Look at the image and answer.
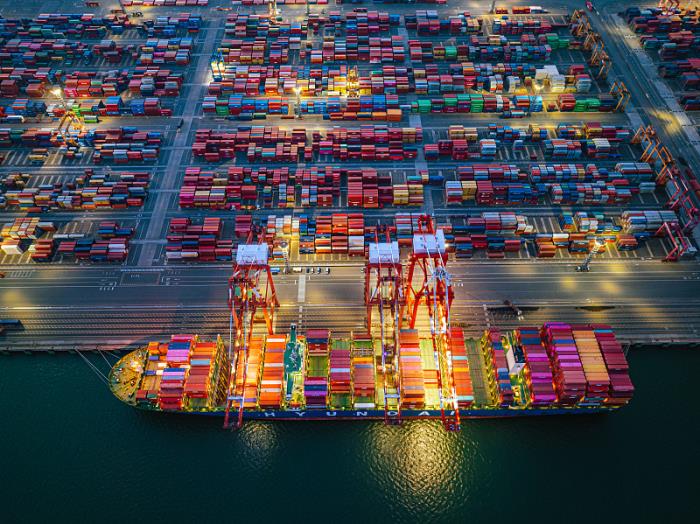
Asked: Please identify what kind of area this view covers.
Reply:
port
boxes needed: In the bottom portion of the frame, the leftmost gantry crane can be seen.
[221,221,286,430]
